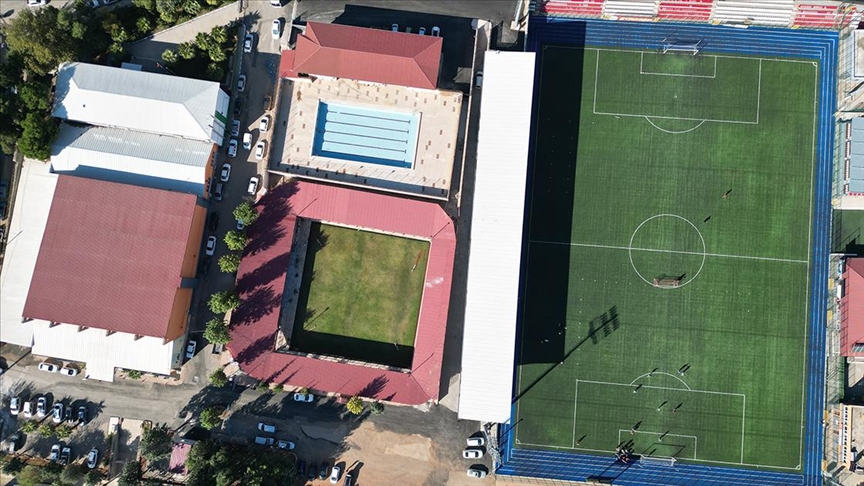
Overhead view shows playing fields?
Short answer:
Yes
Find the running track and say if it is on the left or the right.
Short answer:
right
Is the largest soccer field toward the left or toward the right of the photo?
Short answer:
right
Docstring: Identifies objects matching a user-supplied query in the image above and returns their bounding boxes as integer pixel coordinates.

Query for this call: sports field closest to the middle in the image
[284,221,430,368]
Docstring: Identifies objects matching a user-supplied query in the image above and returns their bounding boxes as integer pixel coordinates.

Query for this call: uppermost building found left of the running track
[280,21,442,90]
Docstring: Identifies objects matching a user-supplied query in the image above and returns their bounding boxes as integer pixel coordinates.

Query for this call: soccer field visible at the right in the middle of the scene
[511,43,821,474]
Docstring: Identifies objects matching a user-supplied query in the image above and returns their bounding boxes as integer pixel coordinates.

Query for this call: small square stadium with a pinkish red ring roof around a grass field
[227,179,456,404]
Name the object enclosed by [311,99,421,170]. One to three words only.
swimming pool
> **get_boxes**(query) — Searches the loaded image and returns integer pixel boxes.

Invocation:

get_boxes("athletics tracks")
[496,18,839,486]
